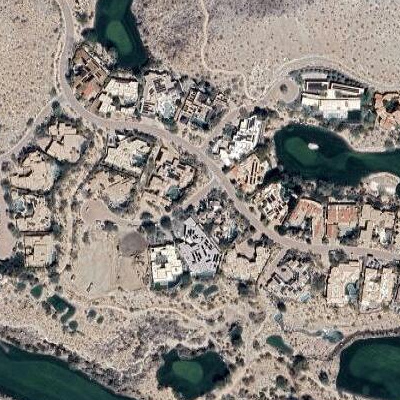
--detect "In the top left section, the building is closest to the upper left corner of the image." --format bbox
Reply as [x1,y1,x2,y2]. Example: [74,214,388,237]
[69,44,109,101]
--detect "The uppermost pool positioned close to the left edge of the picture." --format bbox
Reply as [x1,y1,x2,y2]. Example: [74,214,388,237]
[11,193,32,217]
